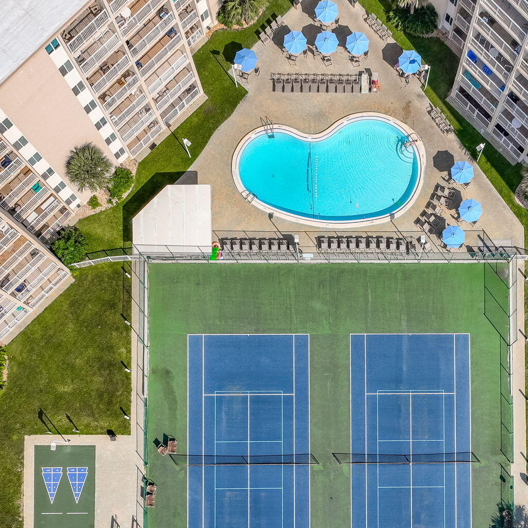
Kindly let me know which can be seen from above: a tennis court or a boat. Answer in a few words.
tennis court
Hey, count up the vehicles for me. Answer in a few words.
none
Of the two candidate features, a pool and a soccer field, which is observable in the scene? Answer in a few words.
pool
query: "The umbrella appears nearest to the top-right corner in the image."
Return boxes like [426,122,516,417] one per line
[398,53,421,79]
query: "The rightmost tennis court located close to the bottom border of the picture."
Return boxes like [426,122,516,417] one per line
[351,334,471,528]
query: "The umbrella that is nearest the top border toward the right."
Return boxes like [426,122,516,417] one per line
[315,1,338,31]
